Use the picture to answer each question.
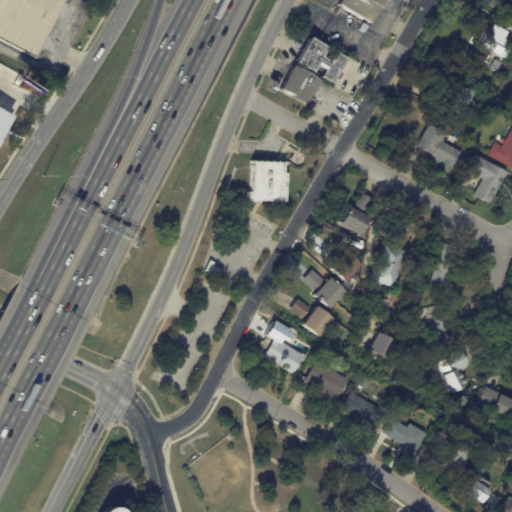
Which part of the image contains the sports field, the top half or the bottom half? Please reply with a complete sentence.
Seen from above, the sports field lies in the bottom half of the view.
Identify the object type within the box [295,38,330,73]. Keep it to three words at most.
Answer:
building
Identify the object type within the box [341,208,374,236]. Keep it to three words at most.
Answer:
house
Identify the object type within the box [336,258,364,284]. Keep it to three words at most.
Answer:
house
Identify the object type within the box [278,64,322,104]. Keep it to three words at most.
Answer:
building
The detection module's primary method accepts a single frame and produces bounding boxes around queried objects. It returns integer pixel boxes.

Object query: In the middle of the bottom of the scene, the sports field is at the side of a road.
[178,437,258,512]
